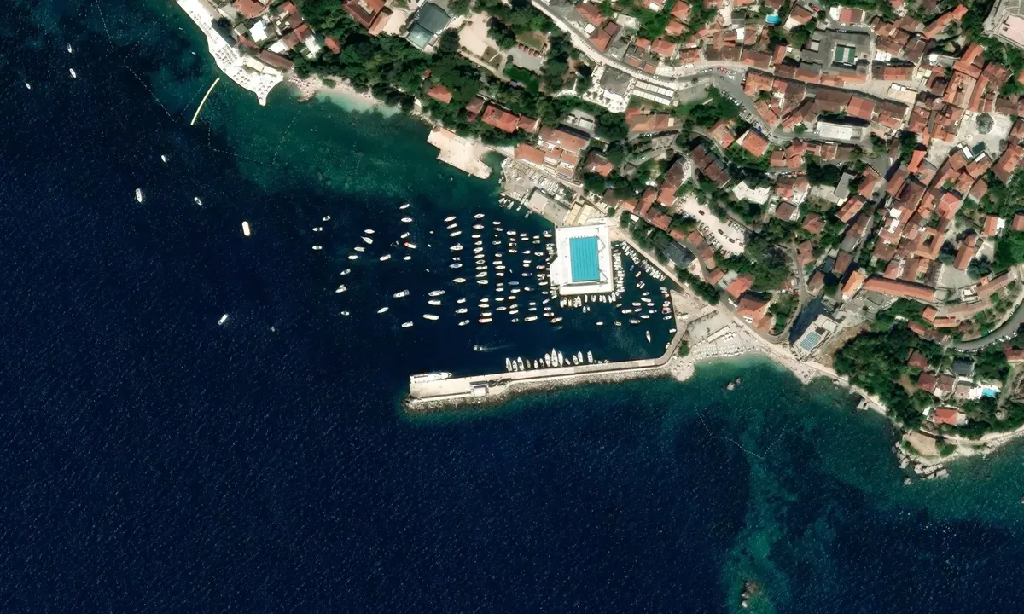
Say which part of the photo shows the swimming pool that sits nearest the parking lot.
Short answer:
center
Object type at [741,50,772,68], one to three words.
house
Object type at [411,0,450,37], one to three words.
house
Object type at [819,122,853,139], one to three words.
building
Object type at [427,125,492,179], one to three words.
pier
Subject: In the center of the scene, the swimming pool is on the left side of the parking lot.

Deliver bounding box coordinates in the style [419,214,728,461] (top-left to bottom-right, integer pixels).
[550,223,614,295]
